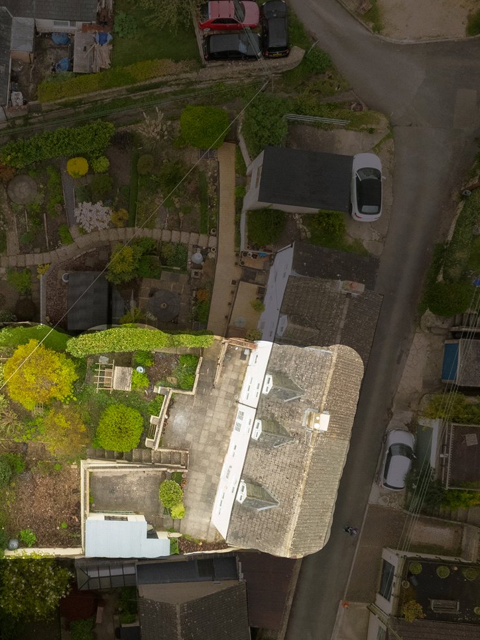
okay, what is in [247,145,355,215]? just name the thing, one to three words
building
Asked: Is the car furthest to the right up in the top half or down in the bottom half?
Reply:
bottom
